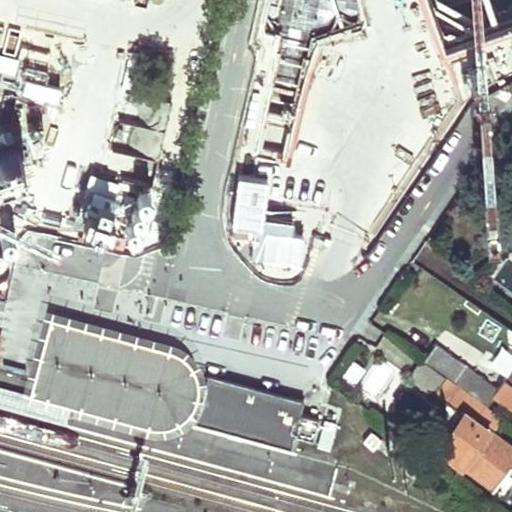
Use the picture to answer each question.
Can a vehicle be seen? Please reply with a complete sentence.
Yes, a vehicle is visible in the scene.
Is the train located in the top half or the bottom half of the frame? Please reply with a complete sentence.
The train sits in the bottom half of the picture.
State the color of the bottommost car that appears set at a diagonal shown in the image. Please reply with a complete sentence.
From above, the bottommost car that appears set at a diagonal appears white.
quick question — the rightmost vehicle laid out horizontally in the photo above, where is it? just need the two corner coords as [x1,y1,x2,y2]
[320,326,343,338]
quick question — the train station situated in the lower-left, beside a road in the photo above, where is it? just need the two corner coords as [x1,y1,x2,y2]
[23,312,209,442]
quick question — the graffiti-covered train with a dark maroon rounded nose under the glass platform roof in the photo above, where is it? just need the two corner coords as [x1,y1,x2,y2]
[0,418,80,452]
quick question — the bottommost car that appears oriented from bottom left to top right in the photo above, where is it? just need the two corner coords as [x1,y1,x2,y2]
[318,346,337,367]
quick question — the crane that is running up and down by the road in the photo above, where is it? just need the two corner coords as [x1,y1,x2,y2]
[464,0,501,258]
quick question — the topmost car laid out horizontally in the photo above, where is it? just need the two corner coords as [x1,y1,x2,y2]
[52,244,76,256]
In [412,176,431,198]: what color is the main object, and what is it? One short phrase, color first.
white car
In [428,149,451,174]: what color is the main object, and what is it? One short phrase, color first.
white vehicle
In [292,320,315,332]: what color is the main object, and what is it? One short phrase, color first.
white vehicle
